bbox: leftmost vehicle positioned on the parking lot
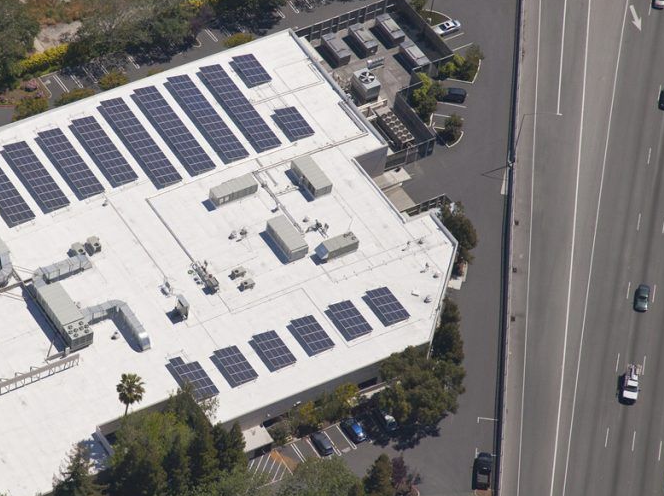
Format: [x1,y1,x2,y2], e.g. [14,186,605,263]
[309,428,336,459]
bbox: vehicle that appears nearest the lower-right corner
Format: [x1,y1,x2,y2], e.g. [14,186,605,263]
[621,363,640,404]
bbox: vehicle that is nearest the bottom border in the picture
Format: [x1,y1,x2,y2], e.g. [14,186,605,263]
[473,455,492,489]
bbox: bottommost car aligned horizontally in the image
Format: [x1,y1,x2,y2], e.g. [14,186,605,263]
[439,87,471,103]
